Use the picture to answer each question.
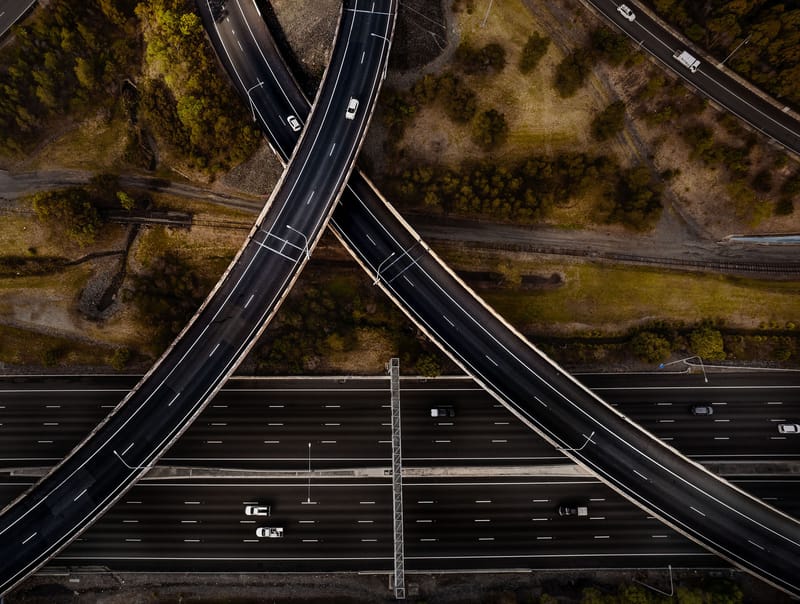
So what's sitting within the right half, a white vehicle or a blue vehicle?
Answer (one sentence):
The one visible within the right half is a white vehicle.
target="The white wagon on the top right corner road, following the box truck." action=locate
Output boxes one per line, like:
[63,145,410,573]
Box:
[616,4,635,21]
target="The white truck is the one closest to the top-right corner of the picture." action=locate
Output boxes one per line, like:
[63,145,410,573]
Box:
[672,45,702,71]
